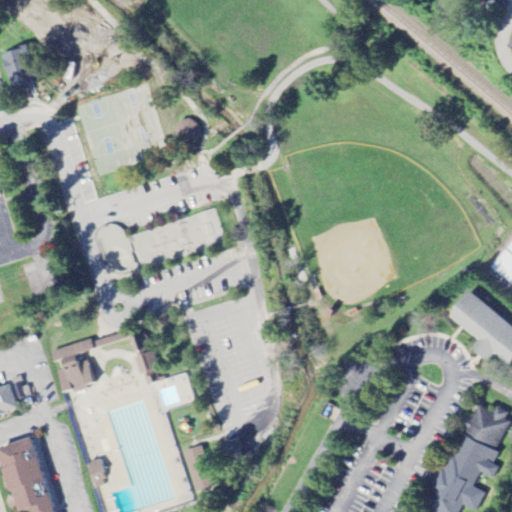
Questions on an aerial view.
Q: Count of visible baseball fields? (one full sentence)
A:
There is 1 baseball field in the image.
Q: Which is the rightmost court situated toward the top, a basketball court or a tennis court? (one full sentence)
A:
The rightmost court situated toward the top appears to be a basketball court.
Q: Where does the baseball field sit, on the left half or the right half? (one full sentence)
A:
It is on the right.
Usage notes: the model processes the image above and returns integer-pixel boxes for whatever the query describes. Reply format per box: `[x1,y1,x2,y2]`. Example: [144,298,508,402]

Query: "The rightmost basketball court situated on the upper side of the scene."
[112,82,165,163]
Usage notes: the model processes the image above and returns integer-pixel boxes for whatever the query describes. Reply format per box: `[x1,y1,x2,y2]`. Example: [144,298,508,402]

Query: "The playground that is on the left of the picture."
[175,415,199,439]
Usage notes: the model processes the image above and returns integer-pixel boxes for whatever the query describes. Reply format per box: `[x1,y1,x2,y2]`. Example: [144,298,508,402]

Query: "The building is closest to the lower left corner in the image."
[0,438,56,512]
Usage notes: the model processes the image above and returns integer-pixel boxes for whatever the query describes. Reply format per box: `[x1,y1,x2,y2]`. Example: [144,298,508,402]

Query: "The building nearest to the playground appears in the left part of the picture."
[184,445,208,494]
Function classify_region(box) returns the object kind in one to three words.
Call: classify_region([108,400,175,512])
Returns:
swimming pool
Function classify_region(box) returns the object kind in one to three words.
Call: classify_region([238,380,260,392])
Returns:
vehicle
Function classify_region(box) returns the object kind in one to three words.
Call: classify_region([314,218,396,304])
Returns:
baseball field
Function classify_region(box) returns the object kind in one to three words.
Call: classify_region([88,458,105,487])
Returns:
shed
